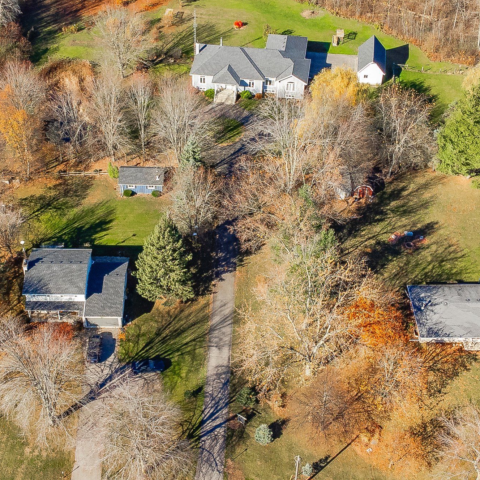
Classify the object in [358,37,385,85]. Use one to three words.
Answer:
shed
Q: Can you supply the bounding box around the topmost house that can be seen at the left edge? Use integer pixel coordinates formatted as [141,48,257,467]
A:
[17,247,130,328]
